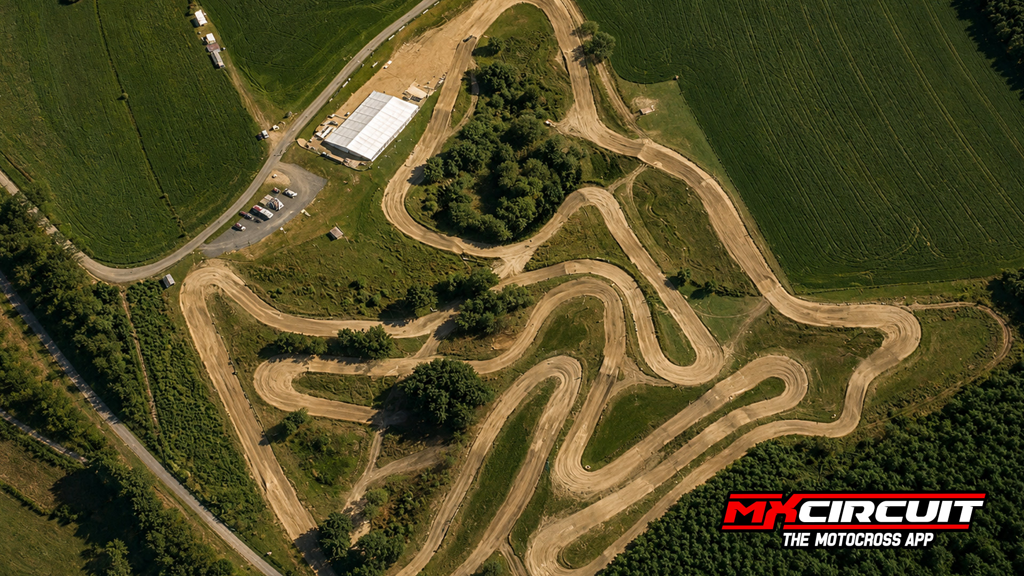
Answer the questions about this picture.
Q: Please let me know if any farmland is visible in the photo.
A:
Yes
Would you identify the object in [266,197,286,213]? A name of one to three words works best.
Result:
vehicle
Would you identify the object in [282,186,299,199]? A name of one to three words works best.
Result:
vehicle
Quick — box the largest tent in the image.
[324,90,420,163]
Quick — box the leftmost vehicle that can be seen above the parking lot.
[208,50,226,71]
